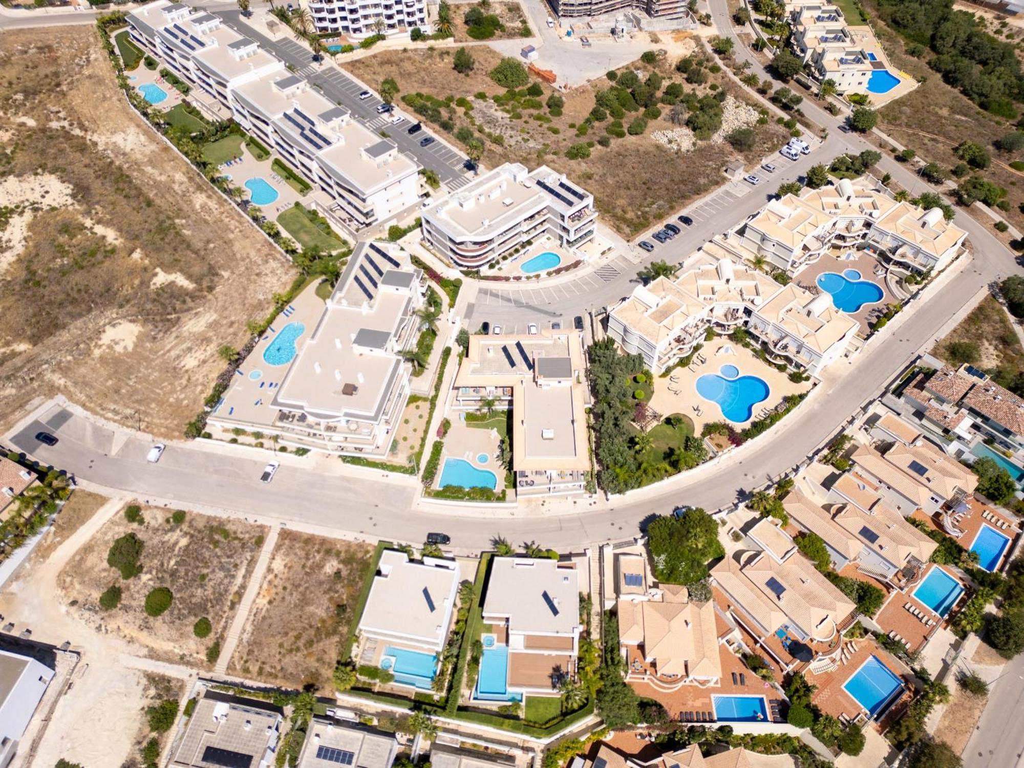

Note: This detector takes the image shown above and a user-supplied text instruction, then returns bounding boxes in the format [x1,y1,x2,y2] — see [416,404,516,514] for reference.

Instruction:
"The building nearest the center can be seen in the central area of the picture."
[454,331,590,495]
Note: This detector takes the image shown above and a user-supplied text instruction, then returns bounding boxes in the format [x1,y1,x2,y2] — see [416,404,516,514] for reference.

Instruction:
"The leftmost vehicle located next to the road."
[36,432,57,445]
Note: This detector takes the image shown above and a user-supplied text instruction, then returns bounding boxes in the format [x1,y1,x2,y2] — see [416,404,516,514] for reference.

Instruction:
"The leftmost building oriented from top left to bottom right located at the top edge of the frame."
[124,0,425,236]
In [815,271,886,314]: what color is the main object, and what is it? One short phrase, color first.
blue swimming pool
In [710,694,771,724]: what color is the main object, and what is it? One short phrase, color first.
blue swimming pool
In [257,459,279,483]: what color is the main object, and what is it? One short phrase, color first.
white truck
